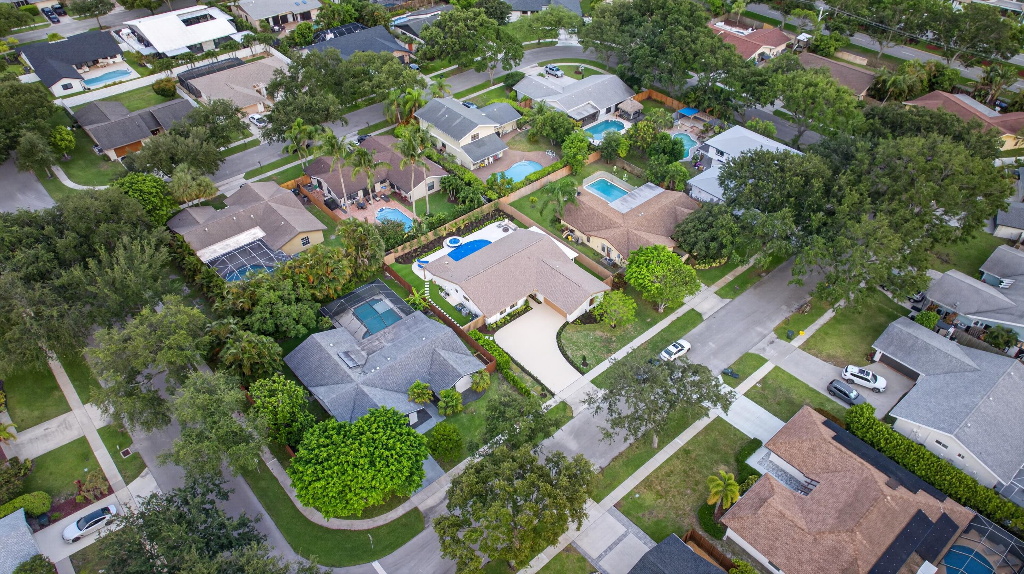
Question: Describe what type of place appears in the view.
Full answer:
The area seen from above is a residential area.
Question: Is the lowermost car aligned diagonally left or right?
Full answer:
The lowermost car aligned diagonally appears in the left half of the scene.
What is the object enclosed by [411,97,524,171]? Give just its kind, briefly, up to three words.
house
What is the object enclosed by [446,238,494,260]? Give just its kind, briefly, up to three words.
swimming pool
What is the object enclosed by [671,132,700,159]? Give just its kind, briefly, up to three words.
swimming pool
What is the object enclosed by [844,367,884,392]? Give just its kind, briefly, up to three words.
car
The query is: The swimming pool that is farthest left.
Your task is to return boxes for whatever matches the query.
[82,69,133,87]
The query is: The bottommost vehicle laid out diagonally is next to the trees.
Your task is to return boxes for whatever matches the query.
[64,504,115,544]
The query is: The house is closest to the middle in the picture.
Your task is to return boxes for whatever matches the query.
[424,227,612,327]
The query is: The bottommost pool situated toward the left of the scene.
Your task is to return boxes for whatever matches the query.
[351,298,404,340]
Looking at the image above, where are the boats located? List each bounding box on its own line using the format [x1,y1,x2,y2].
[118,26,137,41]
